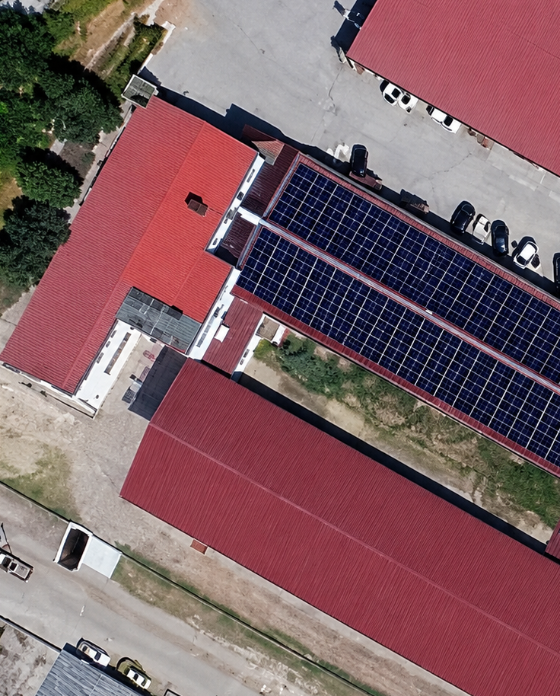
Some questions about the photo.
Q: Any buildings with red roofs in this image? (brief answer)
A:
Yes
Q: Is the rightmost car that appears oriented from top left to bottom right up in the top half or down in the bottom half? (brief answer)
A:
top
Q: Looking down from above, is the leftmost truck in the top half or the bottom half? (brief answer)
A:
bottom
